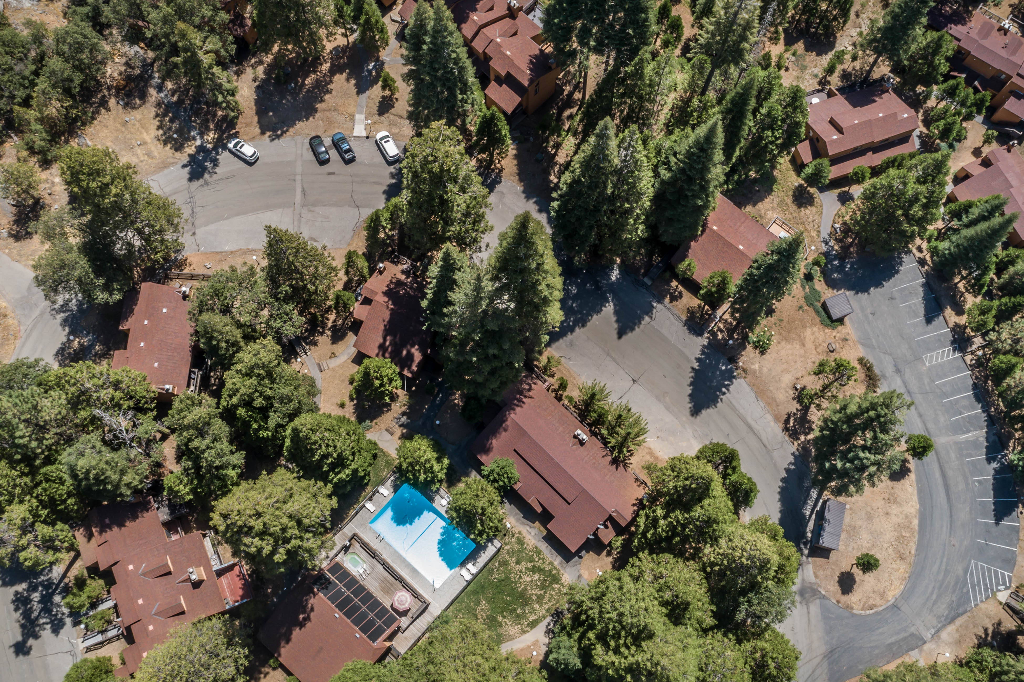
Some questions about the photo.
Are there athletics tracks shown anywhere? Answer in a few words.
No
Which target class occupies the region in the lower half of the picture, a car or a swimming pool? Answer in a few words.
swimming pool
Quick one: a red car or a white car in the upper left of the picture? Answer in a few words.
white car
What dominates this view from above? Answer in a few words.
trees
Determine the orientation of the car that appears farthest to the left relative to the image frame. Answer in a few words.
at an angle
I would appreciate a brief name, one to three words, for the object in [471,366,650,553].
building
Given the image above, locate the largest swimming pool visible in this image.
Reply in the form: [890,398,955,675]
[353,468,501,604]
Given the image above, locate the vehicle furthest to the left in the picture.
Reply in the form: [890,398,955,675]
[227,138,260,165]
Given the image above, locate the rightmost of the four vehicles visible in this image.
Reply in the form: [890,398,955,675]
[376,129,401,165]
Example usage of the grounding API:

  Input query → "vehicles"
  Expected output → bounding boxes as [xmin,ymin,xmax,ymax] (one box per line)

[309,133,332,166]
[332,130,357,165]
[227,138,260,165]
[376,129,401,165]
